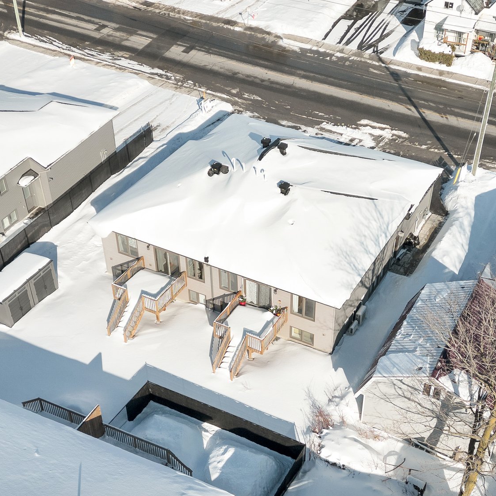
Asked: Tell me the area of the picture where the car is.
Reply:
top right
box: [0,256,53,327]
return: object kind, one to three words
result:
shed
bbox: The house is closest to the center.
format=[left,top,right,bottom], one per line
[83,109,444,356]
